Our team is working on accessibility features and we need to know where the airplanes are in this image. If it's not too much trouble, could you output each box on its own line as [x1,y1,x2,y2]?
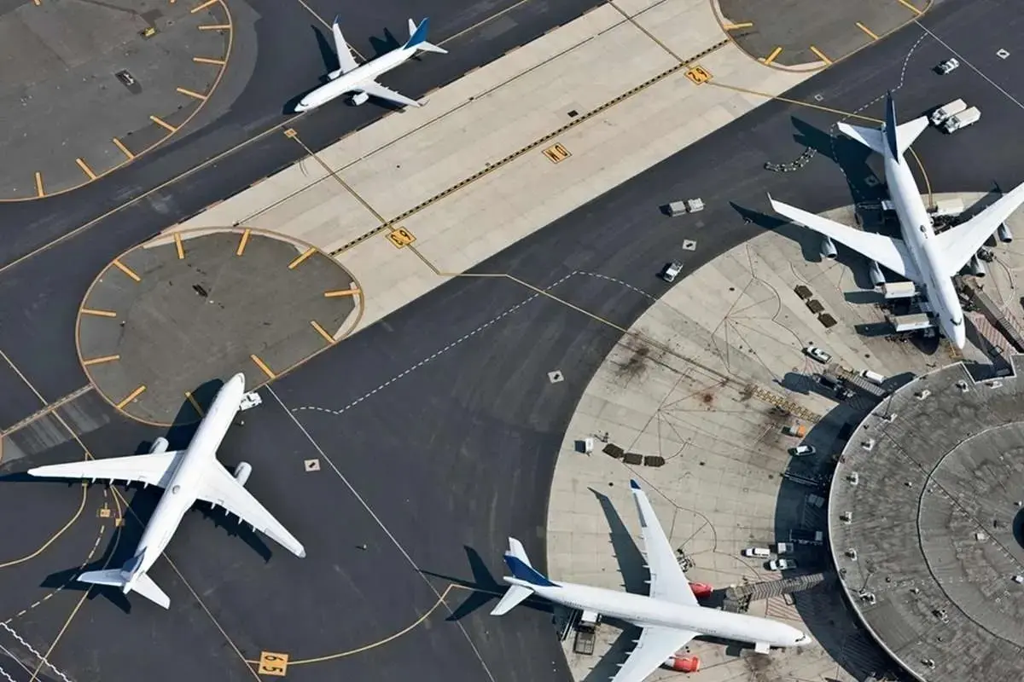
[768,89,1024,352]
[490,478,811,682]
[29,375,303,609]
[295,13,445,115]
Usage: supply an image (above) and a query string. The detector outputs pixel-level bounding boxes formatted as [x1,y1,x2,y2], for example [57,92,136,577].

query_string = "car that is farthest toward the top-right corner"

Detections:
[941,59,961,72]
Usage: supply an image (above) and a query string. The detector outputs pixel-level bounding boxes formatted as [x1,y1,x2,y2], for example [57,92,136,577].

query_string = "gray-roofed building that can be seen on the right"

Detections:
[823,353,1024,682]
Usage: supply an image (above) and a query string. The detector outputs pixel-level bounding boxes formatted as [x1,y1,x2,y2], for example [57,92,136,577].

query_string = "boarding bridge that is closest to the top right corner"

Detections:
[950,276,1024,353]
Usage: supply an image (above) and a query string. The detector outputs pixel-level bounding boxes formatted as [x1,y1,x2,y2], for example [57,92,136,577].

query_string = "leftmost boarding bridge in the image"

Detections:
[723,573,838,614]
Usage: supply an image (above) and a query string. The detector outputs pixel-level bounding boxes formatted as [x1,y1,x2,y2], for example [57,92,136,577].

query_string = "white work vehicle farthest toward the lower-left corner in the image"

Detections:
[240,390,264,411]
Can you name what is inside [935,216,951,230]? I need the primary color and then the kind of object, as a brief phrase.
black work vehicle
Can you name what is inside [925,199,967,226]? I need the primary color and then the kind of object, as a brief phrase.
white truck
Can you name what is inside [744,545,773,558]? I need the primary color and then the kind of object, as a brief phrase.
white vehicle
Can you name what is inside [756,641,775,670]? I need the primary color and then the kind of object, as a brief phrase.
white vehicle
